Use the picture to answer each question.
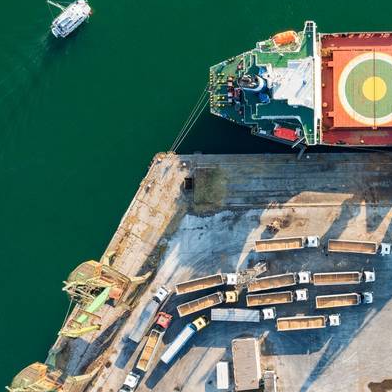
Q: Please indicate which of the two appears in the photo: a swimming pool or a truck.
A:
truck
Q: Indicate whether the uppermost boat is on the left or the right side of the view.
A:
left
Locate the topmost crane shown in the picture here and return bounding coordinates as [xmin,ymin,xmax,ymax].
[57,248,157,336]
